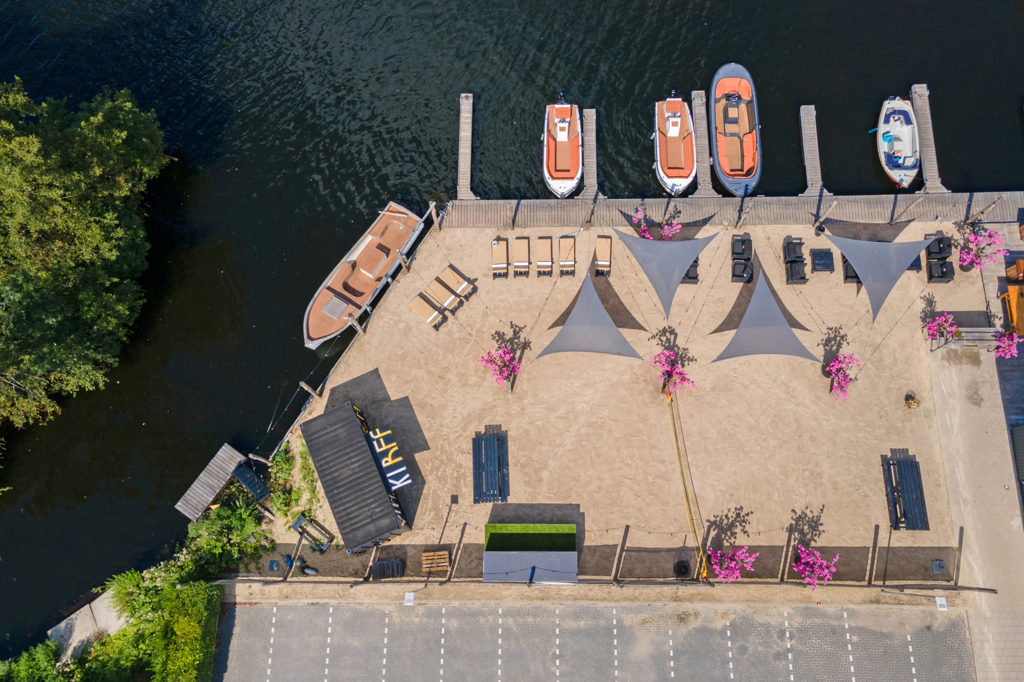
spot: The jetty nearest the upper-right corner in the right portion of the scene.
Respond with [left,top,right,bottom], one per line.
[905,83,952,196]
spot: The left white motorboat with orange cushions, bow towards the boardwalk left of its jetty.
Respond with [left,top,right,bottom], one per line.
[541,96,584,199]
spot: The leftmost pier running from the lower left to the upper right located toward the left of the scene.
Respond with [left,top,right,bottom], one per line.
[176,444,248,522]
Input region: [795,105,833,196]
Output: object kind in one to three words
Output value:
pier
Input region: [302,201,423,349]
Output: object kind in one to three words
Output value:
boat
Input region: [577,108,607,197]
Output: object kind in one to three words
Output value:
pier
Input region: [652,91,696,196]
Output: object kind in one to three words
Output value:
boat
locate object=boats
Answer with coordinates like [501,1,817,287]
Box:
[302,201,423,349]
[707,62,762,197]
[868,95,919,190]
[652,91,696,196]
[541,96,584,199]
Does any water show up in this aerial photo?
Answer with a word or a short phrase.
Yes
